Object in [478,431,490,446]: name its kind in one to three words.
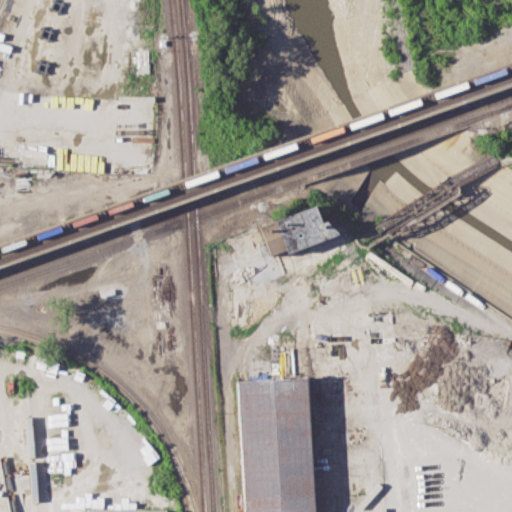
vehicle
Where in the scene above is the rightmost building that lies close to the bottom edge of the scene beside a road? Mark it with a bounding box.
[236,378,315,512]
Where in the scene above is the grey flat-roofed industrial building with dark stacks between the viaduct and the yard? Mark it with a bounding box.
[260,206,340,256]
